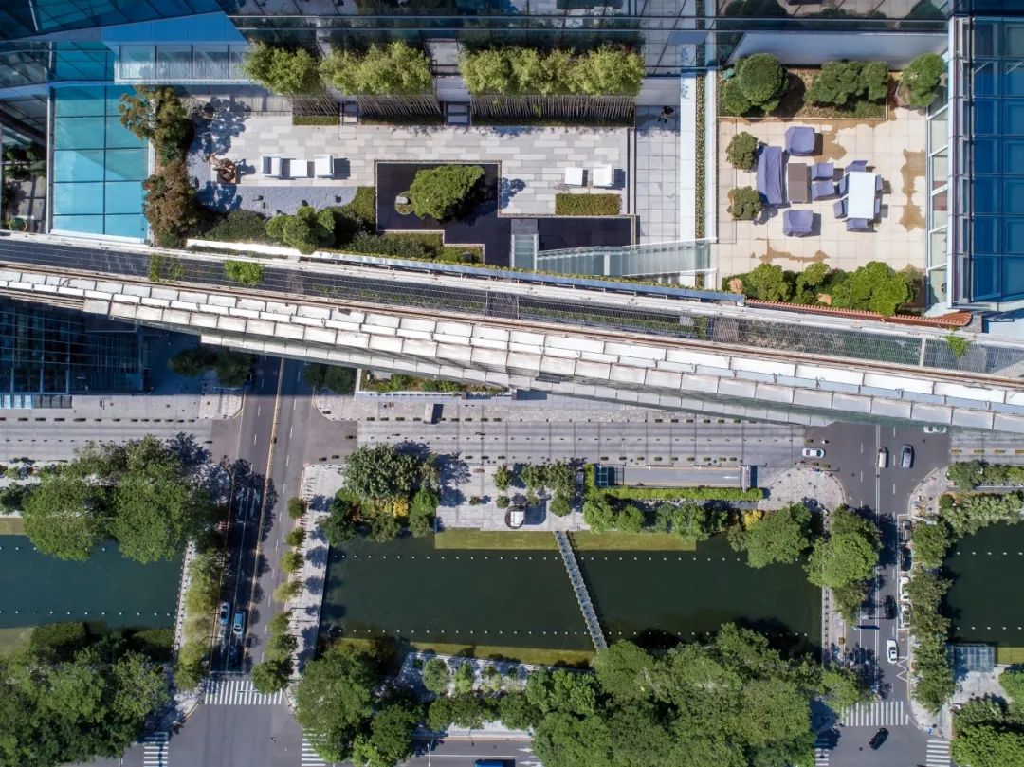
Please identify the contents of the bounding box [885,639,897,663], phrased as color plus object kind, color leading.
white vehicle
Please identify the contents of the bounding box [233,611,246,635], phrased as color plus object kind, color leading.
blue vehicle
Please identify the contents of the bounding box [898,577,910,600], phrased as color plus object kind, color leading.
white vehicle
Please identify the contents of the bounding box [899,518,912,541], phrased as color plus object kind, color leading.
gray vehicle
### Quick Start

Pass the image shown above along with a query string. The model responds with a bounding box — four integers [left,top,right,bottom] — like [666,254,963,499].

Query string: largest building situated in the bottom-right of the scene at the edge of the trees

[944,638,994,671]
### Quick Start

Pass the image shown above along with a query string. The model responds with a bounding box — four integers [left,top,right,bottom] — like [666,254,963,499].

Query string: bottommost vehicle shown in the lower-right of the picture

[869,727,888,750]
